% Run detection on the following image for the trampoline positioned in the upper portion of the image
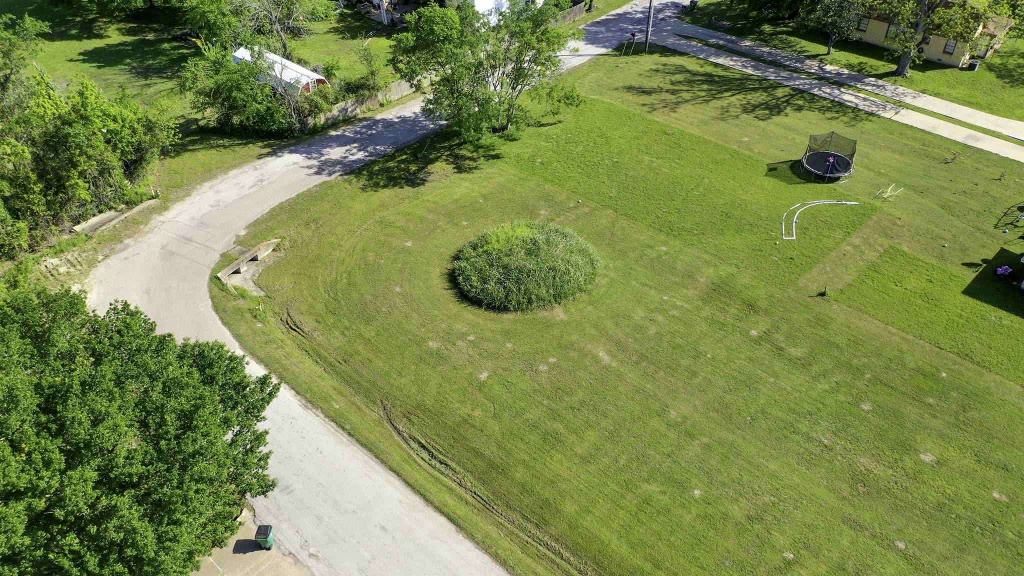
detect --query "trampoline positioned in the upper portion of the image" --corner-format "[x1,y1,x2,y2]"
[798,130,867,187]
